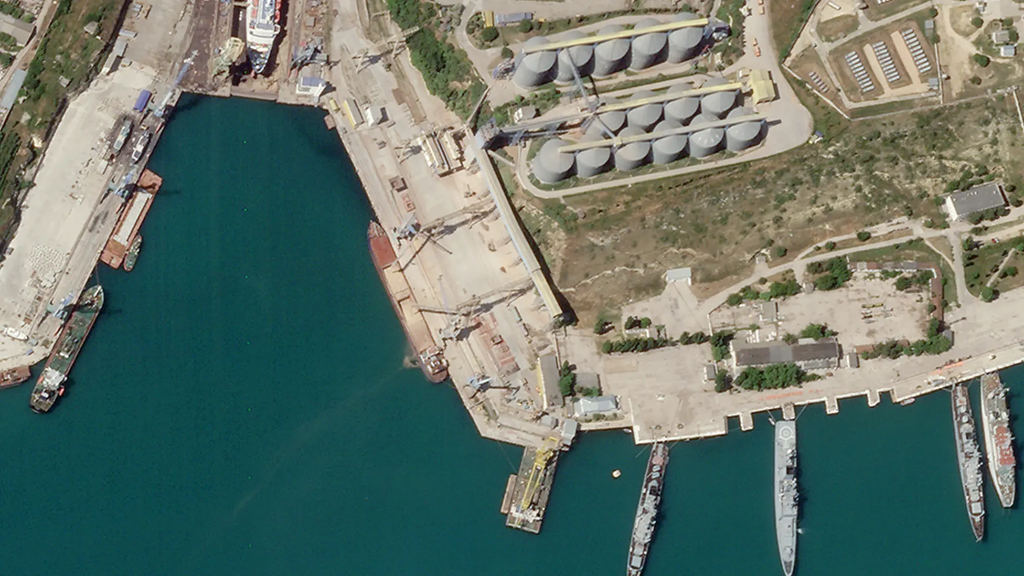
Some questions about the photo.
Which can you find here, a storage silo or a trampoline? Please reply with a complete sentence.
The image shows a storage silo.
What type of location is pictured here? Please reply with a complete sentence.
This image shows a port.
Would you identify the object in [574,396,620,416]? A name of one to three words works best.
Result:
house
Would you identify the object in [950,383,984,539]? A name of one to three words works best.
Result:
ship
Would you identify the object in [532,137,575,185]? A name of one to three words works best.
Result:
silo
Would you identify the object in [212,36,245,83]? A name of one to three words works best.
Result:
crane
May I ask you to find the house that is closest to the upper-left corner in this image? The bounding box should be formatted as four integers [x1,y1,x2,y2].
[0,17,40,51]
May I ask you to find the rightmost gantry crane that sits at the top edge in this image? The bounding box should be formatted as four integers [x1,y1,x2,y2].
[352,24,421,71]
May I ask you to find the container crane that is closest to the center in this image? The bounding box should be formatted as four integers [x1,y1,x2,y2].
[453,276,535,322]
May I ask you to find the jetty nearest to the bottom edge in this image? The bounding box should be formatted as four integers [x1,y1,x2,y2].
[498,475,517,516]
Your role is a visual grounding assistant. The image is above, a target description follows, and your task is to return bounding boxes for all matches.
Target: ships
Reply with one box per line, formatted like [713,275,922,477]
[34,285,102,418]
[977,374,1016,505]
[950,383,984,539]
[101,171,162,270]
[774,420,799,576]
[0,363,32,392]
[627,441,668,576]
[372,220,448,385]
[505,437,558,535]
